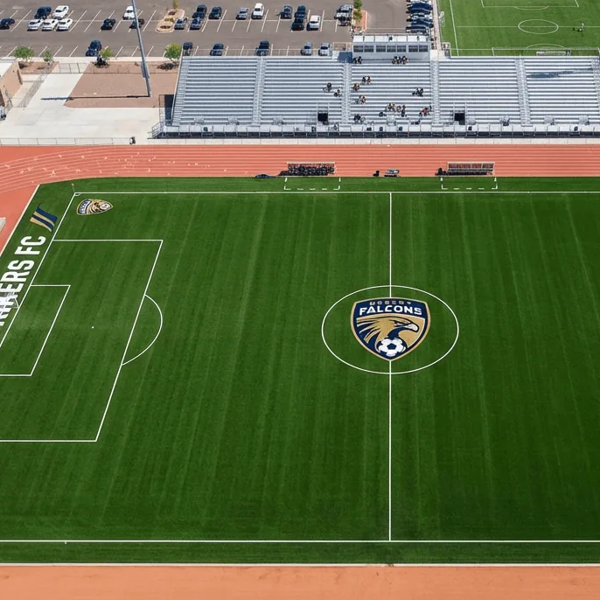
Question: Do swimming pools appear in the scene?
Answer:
No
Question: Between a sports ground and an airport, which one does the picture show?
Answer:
sports ground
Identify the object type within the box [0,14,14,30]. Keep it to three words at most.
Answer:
car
